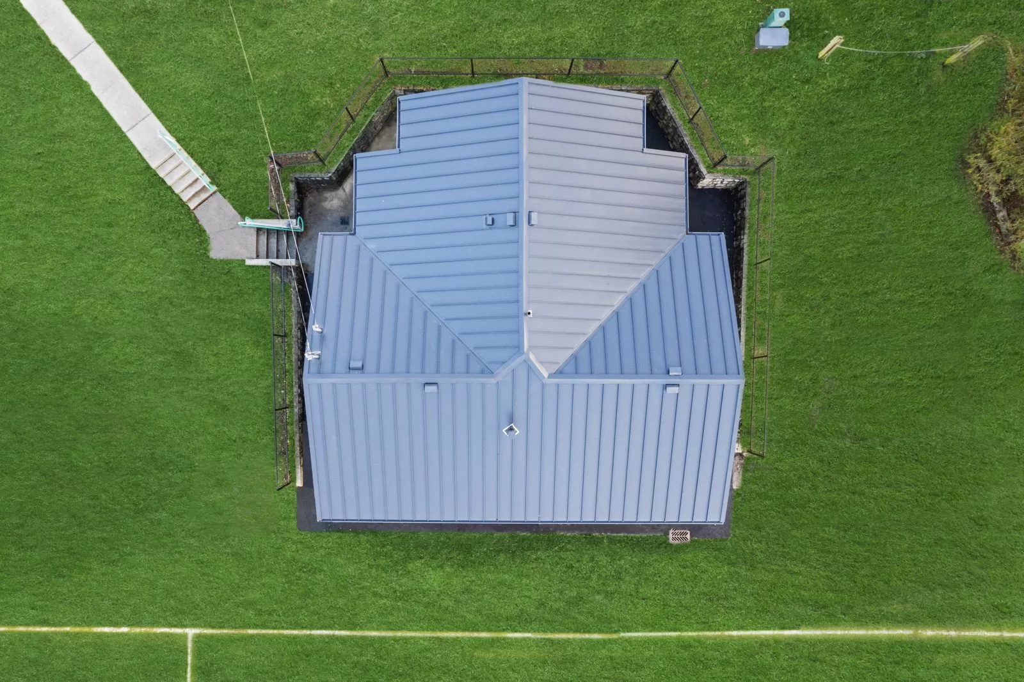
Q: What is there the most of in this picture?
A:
grass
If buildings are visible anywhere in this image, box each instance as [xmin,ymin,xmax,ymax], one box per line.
[303,77,745,526]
